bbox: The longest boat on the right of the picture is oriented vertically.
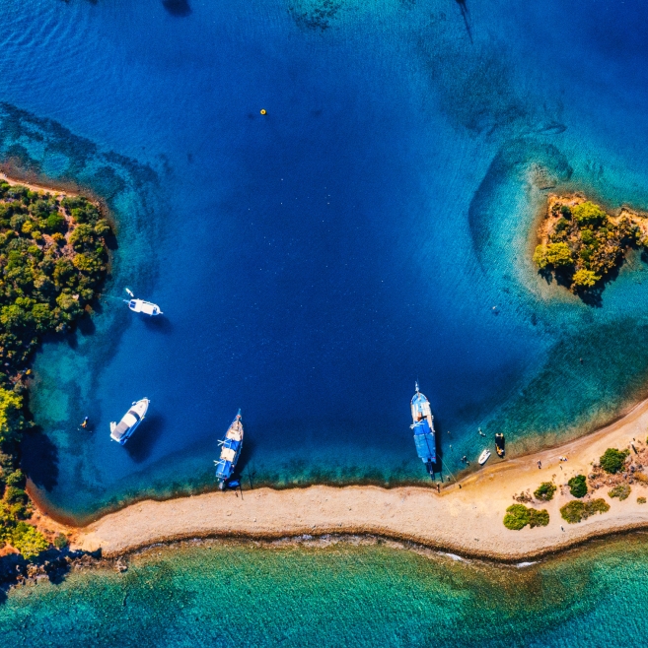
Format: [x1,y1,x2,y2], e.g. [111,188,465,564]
[412,382,439,481]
